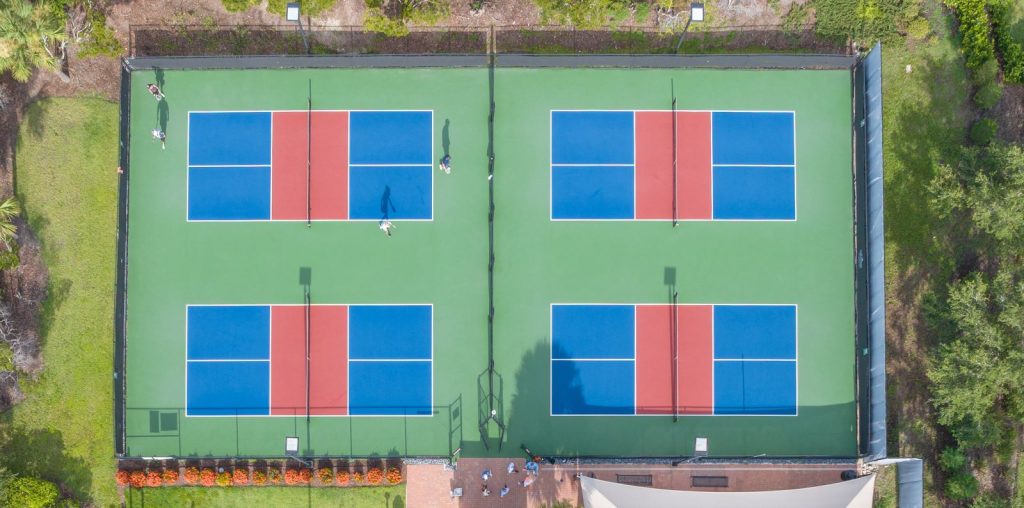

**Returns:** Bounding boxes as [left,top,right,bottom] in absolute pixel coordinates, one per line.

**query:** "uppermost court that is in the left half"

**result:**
[187,110,433,220]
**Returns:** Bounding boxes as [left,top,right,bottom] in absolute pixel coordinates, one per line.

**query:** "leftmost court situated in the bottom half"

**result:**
[186,304,433,416]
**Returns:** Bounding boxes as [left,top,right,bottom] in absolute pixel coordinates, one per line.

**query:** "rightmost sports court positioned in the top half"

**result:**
[551,110,796,220]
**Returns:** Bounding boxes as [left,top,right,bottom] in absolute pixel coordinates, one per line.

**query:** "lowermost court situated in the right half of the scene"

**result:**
[551,304,798,416]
